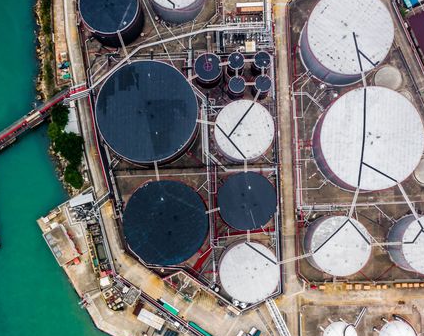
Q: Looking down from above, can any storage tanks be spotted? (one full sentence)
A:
Yes, this view includes a storage tank.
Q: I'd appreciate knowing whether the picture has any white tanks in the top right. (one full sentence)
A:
Yes, looking in the top right, one can make out a white tank.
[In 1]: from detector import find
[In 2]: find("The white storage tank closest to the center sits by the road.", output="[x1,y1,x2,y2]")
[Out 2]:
[205,92,282,172]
